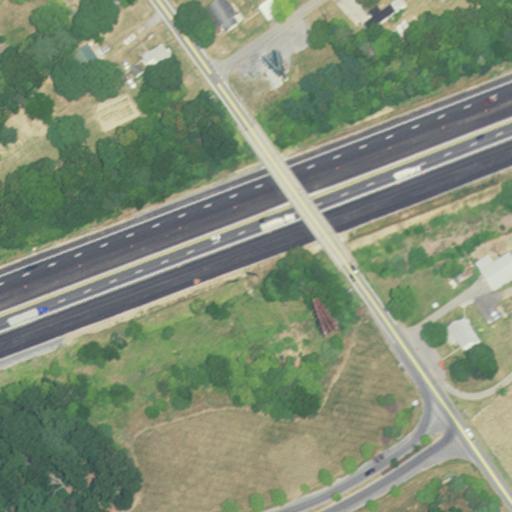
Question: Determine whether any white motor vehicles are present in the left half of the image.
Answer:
Yes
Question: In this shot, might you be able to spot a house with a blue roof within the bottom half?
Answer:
No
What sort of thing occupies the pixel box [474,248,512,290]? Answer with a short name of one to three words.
building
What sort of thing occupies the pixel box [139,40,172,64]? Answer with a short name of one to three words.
house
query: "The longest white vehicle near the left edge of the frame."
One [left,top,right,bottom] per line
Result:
[7,306,48,326]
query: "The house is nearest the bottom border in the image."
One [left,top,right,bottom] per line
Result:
[448,315,481,351]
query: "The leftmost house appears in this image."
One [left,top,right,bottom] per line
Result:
[72,42,98,65]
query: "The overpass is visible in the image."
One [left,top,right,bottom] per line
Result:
[258,147,357,273]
